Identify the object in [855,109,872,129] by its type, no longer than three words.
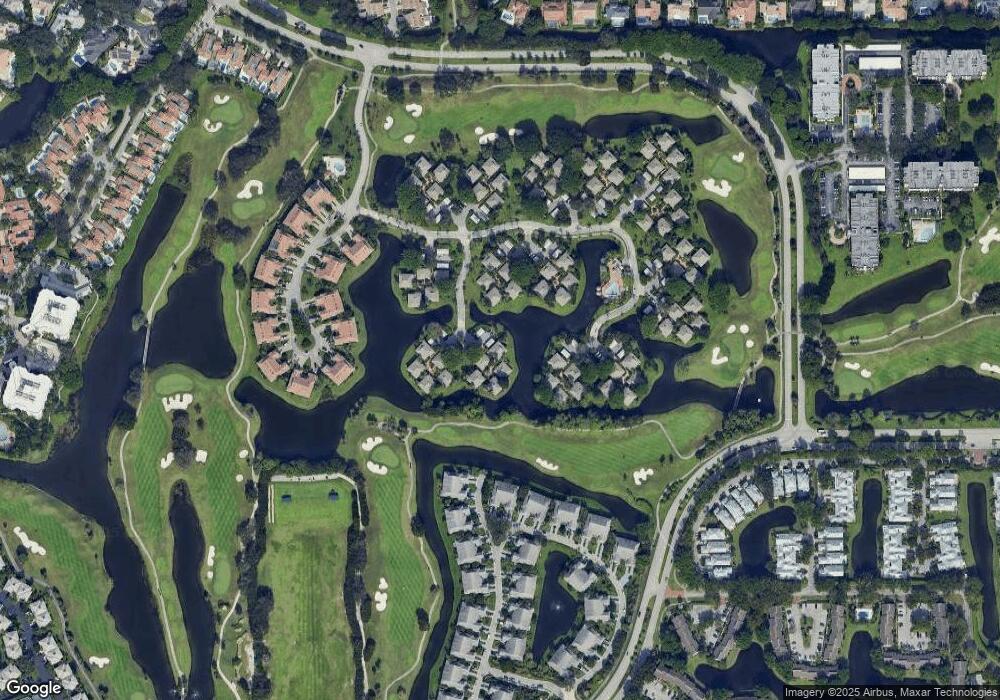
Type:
swimming pool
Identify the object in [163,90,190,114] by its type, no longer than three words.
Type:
house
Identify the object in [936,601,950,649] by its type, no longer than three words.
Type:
building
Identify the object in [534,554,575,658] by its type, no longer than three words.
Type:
pond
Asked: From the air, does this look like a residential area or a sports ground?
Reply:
residential area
